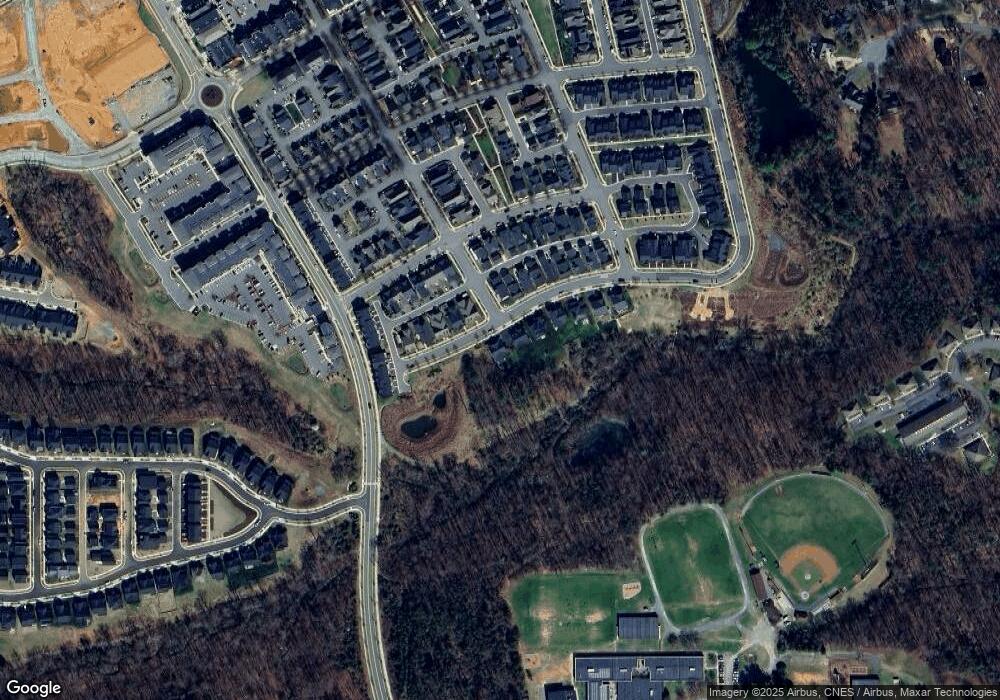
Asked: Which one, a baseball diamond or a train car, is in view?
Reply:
baseball diamond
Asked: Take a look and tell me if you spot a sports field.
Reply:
Yes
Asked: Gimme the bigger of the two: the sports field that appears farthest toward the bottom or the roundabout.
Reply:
the sports field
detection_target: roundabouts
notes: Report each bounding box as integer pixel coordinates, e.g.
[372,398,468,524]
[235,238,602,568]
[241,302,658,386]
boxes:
[194,81,233,119]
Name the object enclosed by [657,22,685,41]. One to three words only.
house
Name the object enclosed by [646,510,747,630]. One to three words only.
sports field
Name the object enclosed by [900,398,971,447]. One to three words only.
building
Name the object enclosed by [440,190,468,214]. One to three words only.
house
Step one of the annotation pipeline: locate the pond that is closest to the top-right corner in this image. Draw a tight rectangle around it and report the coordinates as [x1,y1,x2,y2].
[735,49,816,151]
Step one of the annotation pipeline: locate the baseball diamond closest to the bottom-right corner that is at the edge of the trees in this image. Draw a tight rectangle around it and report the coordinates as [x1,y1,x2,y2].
[743,473,892,609]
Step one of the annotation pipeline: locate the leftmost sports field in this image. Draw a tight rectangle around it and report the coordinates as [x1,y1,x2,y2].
[512,573,658,652]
